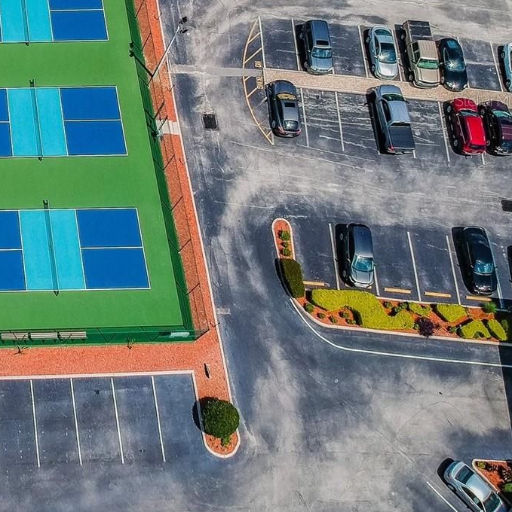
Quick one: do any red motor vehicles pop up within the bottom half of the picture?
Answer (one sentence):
No, there's no red motor vehicle to be seen within the bottom half of the picture.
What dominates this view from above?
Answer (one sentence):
The largest share of the image is taken up by paved ground.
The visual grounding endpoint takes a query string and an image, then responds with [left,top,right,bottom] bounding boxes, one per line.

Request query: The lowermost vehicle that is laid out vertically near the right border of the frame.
[459,227,501,295]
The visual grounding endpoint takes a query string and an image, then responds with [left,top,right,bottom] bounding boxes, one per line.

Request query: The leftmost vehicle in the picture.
[268,80,300,138]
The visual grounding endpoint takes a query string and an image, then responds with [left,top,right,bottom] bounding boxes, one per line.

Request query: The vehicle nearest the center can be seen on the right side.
[343,224,381,287]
